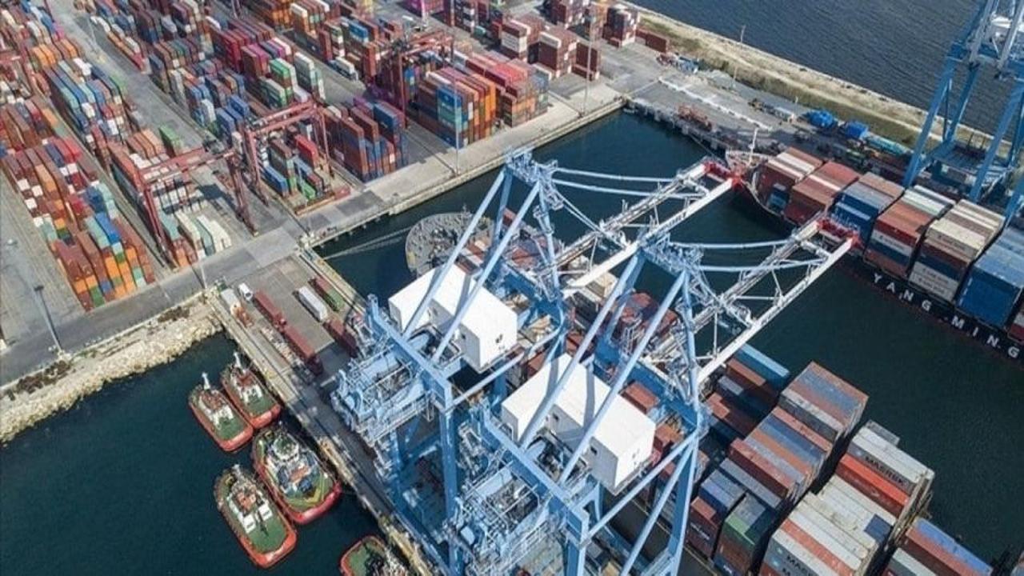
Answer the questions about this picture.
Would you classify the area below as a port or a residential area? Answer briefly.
port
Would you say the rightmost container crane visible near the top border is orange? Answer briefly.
No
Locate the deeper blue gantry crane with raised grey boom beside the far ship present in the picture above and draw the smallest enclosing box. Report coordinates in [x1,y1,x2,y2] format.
[904,0,1024,226]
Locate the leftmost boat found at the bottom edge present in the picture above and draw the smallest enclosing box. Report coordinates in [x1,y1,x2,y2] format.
[217,453,300,569]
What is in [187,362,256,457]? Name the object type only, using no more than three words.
boat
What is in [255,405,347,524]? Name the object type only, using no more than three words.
boat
